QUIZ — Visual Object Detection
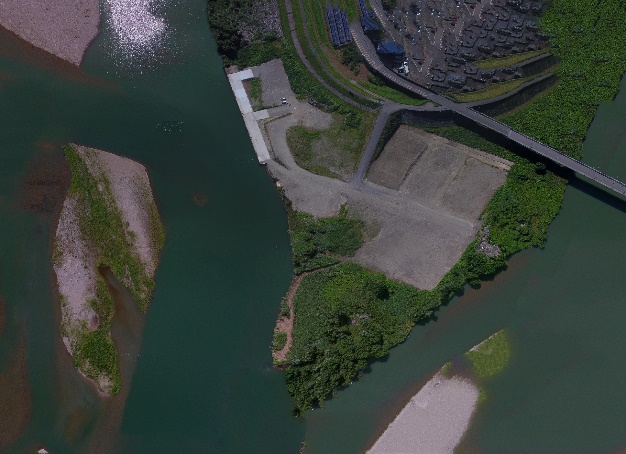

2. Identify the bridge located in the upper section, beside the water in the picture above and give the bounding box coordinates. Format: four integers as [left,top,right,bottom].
[444,101,626,196]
